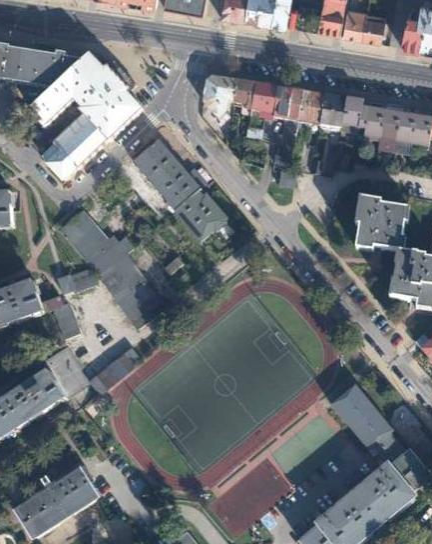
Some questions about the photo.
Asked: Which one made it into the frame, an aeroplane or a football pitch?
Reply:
football pitch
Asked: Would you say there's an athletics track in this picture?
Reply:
Yes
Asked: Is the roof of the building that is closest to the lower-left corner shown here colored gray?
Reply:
Yes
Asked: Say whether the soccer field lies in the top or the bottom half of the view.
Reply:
bottom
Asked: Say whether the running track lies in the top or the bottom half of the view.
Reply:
bottom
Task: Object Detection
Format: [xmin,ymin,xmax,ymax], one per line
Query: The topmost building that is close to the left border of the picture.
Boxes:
[0,43,69,89]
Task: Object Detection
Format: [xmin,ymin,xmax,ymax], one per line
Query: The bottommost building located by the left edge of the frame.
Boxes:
[12,465,99,540]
